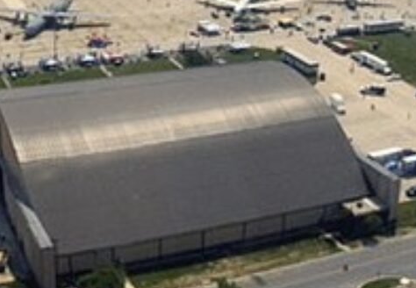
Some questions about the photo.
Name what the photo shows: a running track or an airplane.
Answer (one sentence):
There is an airplane in the scene.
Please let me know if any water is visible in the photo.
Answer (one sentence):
No, no water is visible.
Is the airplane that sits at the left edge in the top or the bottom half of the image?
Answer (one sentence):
Seen from above, the airplane that sits at the left edge lies in the top half of the view.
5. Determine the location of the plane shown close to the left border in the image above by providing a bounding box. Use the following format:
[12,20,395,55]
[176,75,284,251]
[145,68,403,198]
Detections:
[0,0,104,36]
